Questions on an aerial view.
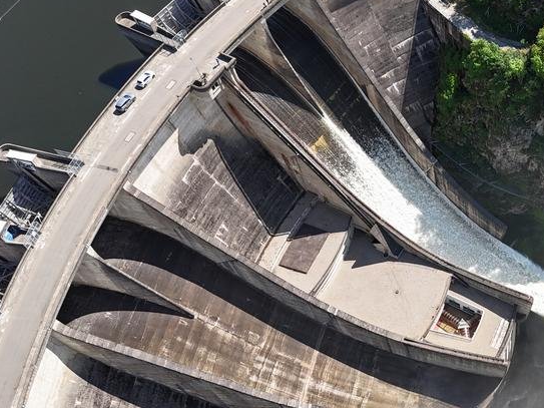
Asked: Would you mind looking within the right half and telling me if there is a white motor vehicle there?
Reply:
No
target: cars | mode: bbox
[132,69,158,90]
[109,92,140,115]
